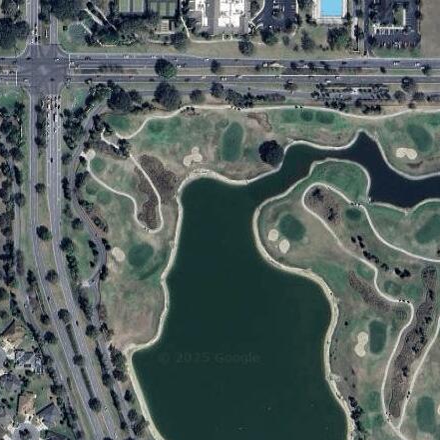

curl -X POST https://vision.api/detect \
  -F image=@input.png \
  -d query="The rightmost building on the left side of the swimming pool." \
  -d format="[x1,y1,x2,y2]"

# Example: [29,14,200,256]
[214,0,250,34]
